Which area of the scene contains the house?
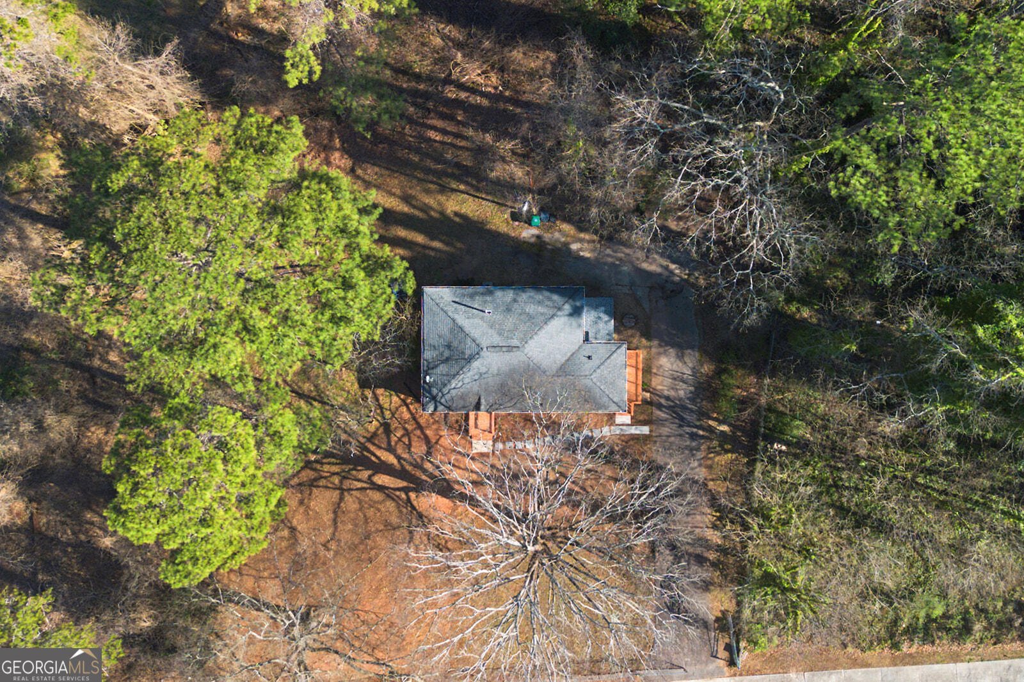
center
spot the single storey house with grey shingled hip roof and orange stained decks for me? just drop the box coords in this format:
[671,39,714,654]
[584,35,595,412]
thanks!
[421,285,642,442]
